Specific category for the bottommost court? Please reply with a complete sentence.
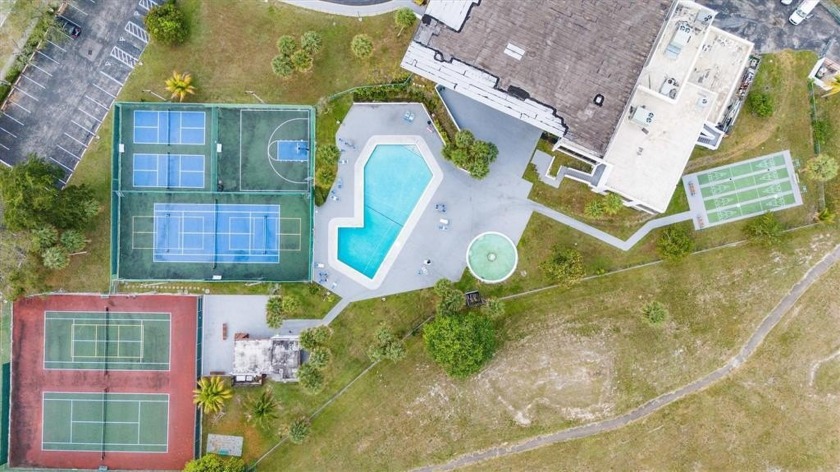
It looks like the bottommost court is a tennis court.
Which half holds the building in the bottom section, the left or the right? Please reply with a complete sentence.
You can find the building in the bottom section on the left side of the picture.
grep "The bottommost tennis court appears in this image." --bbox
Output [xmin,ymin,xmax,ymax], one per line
[41,389,170,458]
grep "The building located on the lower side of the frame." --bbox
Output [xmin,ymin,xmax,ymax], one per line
[232,336,303,387]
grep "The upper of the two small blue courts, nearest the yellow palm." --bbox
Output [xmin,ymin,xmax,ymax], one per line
[133,108,205,144]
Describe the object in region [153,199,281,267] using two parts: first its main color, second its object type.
blue tennis court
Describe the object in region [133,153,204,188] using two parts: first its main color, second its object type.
blue sports court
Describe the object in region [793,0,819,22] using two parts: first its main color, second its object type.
white vehicle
